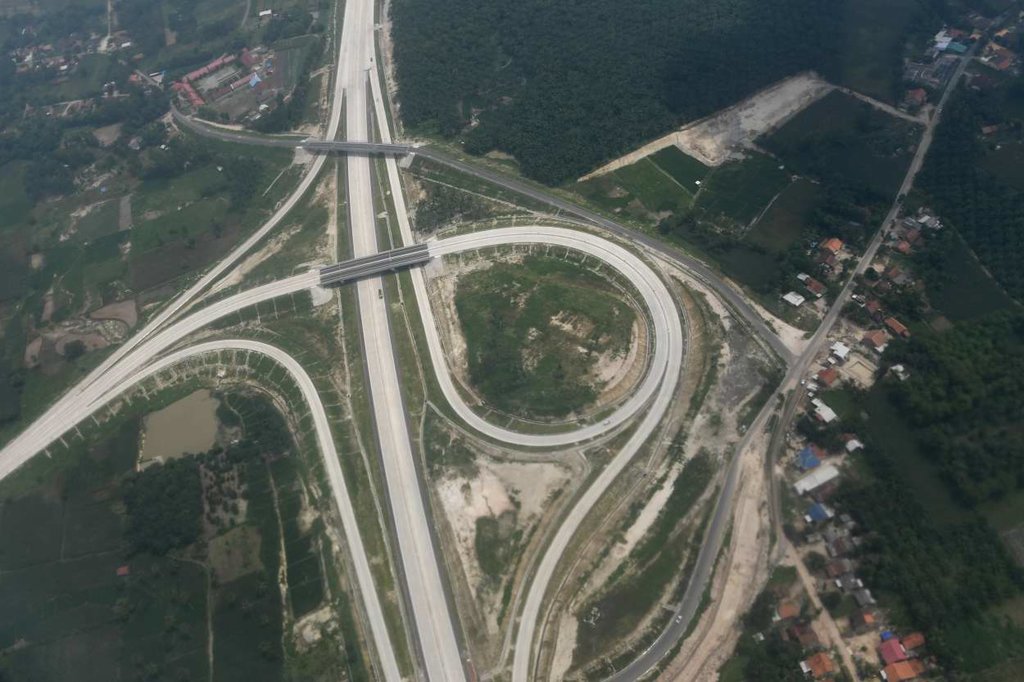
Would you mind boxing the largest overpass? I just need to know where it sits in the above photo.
[313,242,438,287]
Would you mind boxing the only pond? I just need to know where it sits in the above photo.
[139,388,219,467]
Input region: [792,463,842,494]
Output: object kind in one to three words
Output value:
building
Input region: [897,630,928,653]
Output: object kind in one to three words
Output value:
house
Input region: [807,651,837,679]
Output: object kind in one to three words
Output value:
house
